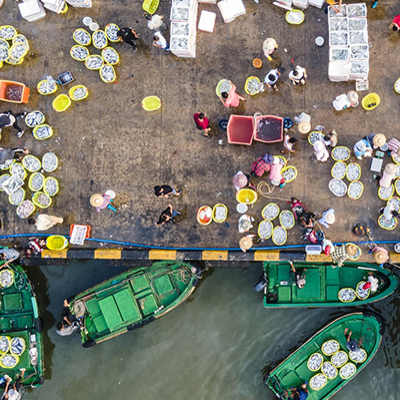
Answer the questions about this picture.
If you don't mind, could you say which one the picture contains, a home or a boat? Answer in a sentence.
The image shows a boat.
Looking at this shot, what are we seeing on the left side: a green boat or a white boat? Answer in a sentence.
There is a green boat on the left side.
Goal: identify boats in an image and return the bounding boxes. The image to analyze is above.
[0,259,44,389]
[252,264,399,308]
[267,312,385,400]
[61,265,201,353]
